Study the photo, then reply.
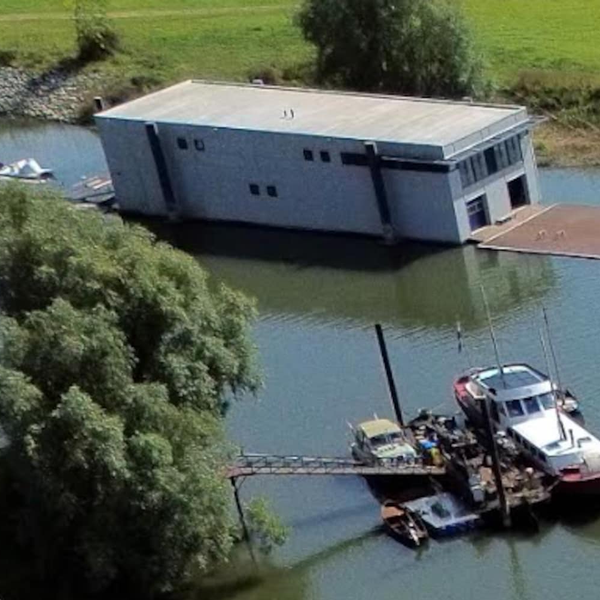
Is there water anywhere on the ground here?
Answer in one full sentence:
Yes, there's water in this view.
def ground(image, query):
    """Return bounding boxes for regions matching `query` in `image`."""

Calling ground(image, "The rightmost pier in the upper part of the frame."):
[63,174,116,201]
